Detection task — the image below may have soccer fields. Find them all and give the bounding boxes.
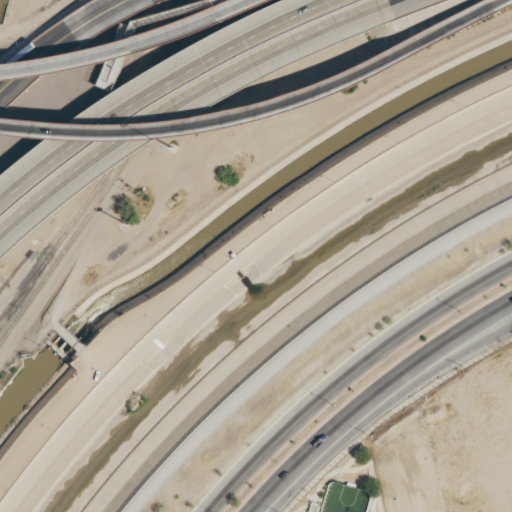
[316,482,370,512]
